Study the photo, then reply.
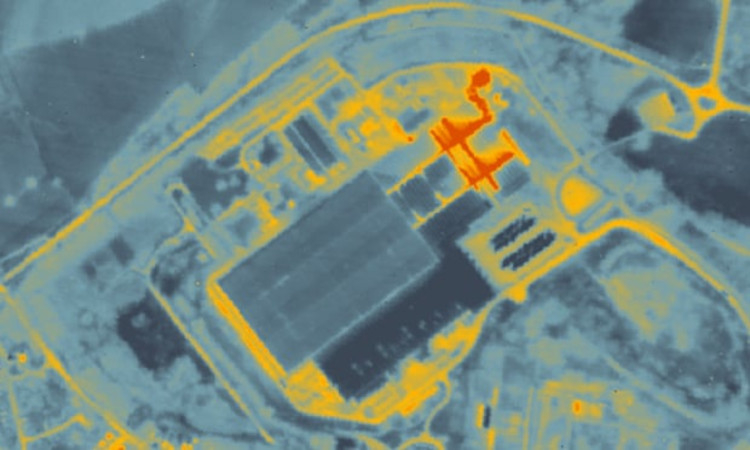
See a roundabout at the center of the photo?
No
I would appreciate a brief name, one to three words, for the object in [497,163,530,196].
shed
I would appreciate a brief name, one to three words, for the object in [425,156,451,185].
building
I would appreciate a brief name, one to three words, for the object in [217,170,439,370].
building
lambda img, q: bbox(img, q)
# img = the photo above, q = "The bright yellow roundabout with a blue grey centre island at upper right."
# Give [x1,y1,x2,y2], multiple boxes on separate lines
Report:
[690,79,730,117]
